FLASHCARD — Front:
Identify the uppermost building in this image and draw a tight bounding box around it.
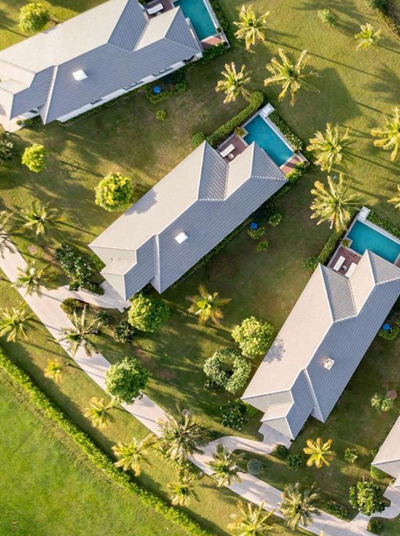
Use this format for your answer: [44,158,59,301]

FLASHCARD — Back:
[0,0,202,125]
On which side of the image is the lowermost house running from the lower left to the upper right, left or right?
right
